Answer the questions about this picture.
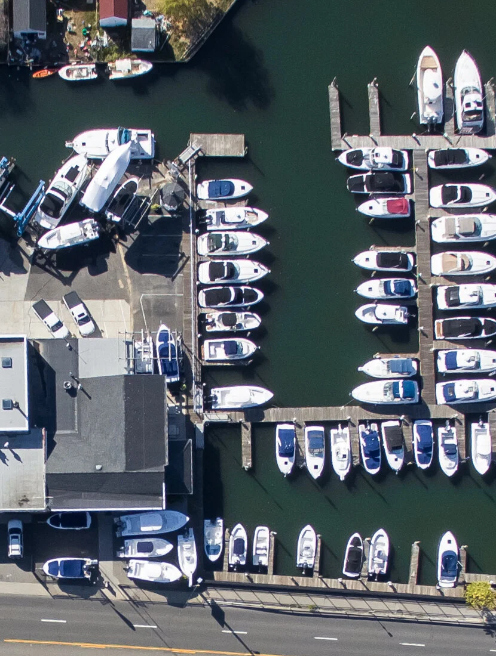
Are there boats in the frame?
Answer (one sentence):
Yes, a boat appears in the view.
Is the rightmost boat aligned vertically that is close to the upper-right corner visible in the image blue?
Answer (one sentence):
No, the rightmost boat aligned vertically that is close to the upper-right corner is white.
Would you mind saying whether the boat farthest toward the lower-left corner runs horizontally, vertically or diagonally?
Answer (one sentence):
The boat farthest toward the lower-left corner is oriented horizontally.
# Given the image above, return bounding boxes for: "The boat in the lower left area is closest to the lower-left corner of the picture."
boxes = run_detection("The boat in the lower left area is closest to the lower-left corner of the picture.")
[43,559,104,579]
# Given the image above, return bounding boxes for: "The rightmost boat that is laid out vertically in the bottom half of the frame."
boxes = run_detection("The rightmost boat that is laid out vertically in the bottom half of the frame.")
[469,414,492,473]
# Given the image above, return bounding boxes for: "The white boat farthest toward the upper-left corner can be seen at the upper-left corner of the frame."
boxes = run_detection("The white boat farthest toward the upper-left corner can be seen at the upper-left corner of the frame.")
[59,63,101,81]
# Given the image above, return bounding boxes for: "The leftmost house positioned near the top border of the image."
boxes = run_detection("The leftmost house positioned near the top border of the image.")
[12,0,46,40]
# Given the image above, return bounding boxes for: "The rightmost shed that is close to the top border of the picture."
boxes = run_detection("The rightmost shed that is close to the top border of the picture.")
[131,11,158,52]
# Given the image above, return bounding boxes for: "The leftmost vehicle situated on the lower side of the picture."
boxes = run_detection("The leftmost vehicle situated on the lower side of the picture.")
[6,521,23,558]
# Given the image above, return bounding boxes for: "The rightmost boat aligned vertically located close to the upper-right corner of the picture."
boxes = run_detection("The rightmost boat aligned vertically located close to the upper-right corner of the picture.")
[451,46,484,135]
